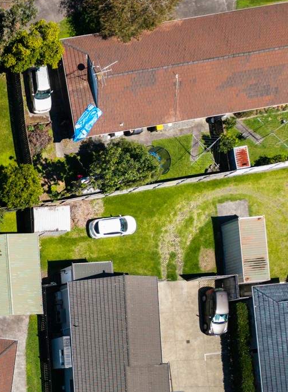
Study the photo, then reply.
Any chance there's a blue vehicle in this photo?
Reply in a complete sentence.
No, there is no blue vehicle in the image.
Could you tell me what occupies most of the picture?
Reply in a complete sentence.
The scene is dominated by buildings.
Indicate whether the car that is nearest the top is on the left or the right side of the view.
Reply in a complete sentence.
The car that is nearest the top appears in the left half of the scene.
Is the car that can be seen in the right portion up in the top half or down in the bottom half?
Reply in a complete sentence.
The bottom half of the photo is where the car that can be seen in the right portion is.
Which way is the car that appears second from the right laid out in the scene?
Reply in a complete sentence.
The car that appears second from the right is laid out from side to side.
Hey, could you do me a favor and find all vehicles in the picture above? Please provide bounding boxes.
[85,213,135,240]
[201,288,230,336]
[27,65,56,116]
